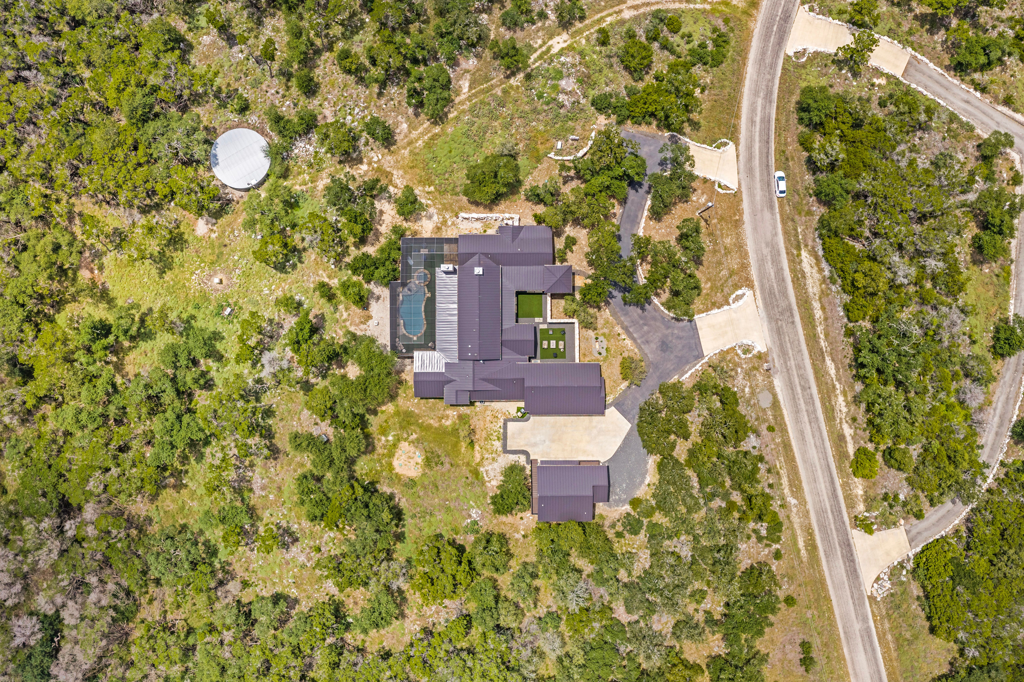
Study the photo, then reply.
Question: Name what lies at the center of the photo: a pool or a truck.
pool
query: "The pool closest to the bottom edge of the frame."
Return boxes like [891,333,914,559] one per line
[399,283,428,337]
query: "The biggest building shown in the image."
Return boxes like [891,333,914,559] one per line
[413,225,605,415]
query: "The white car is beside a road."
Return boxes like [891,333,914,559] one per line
[773,171,787,198]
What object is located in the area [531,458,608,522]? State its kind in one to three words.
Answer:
shed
